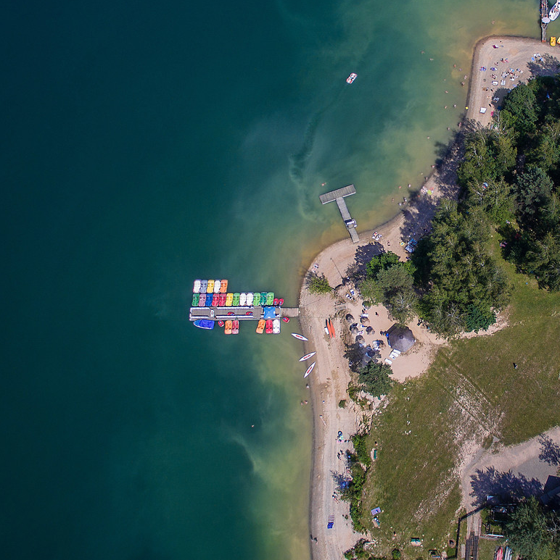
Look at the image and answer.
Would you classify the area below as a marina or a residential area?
marina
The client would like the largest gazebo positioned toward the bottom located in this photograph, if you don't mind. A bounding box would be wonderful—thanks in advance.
[385,324,416,354]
